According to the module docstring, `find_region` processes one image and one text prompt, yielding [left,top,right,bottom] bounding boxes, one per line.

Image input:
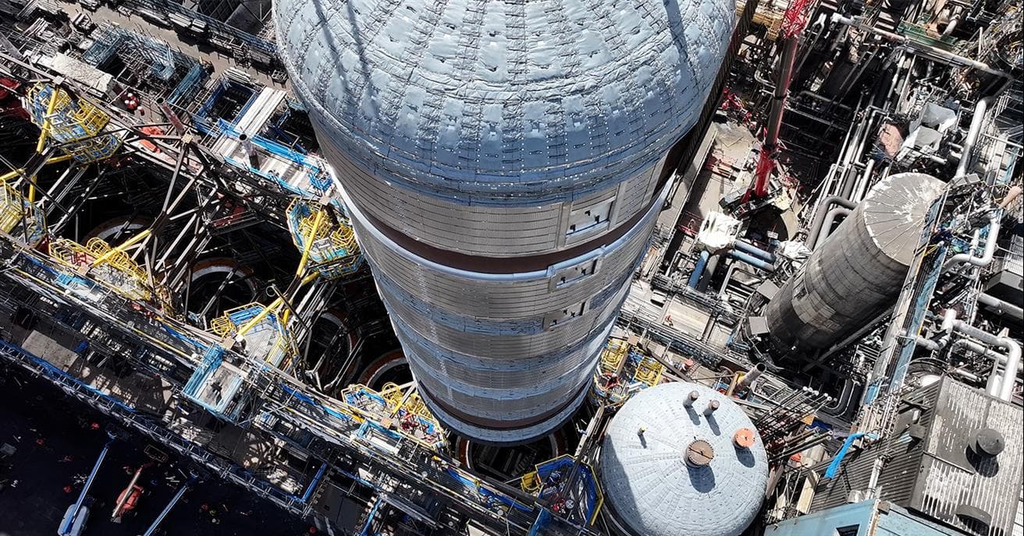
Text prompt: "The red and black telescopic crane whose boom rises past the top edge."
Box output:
[689,0,815,234]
